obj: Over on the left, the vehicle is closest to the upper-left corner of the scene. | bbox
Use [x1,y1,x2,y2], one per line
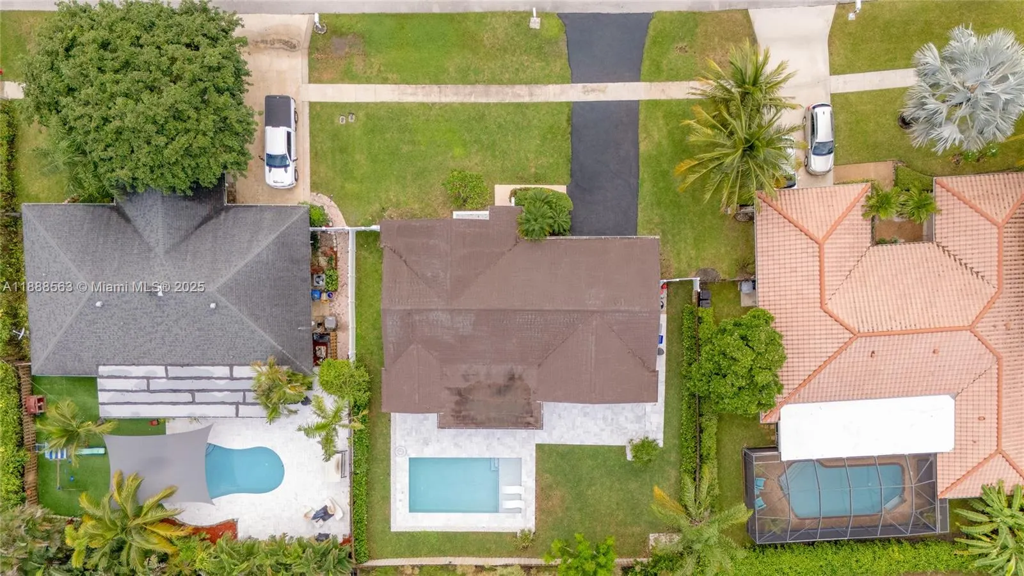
[256,95,301,190]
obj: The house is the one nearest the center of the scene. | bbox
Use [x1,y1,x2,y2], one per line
[381,196,661,430]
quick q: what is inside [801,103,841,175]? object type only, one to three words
car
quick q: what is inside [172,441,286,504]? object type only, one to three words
swimming pool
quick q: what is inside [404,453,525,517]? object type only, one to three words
swimming pool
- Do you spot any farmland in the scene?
No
